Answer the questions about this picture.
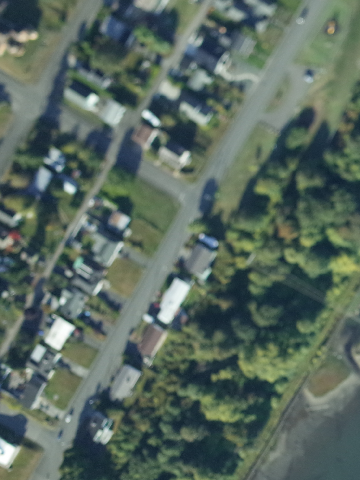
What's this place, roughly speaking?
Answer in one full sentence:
The picture captures a residential area.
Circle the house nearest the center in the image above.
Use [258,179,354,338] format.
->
[186,244,217,275]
